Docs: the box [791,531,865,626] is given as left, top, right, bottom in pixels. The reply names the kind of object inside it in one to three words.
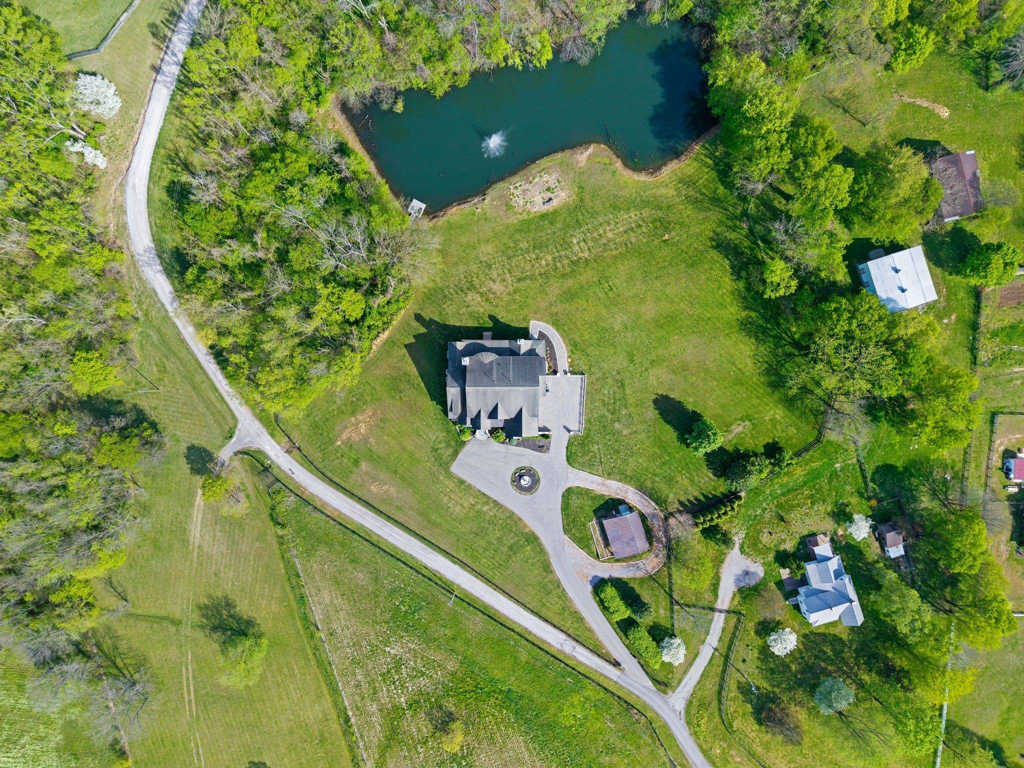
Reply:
house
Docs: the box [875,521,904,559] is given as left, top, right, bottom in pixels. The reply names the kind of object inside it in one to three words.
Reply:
shed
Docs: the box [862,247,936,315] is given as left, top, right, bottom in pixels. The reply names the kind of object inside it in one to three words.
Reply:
barn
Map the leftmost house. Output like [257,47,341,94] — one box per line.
[445,339,547,439]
